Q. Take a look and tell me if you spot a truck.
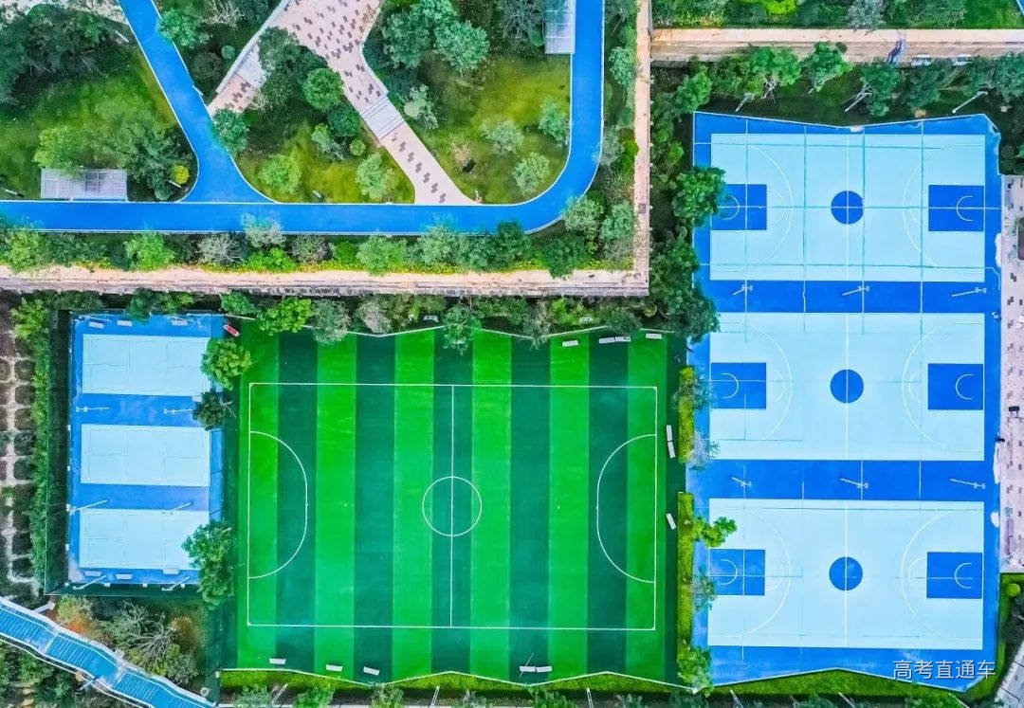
No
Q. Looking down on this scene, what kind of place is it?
sports ground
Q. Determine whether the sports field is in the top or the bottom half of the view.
bottom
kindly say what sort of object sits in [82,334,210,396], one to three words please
sports court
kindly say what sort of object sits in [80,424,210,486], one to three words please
sports court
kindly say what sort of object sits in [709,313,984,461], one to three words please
basketball court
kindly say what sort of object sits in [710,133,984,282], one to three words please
basketball court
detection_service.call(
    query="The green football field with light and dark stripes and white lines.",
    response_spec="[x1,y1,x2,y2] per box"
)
[221,318,692,688]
